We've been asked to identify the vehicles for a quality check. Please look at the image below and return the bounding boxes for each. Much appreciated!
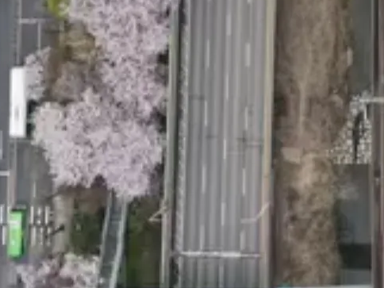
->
[9,67,33,137]
[9,204,32,255]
